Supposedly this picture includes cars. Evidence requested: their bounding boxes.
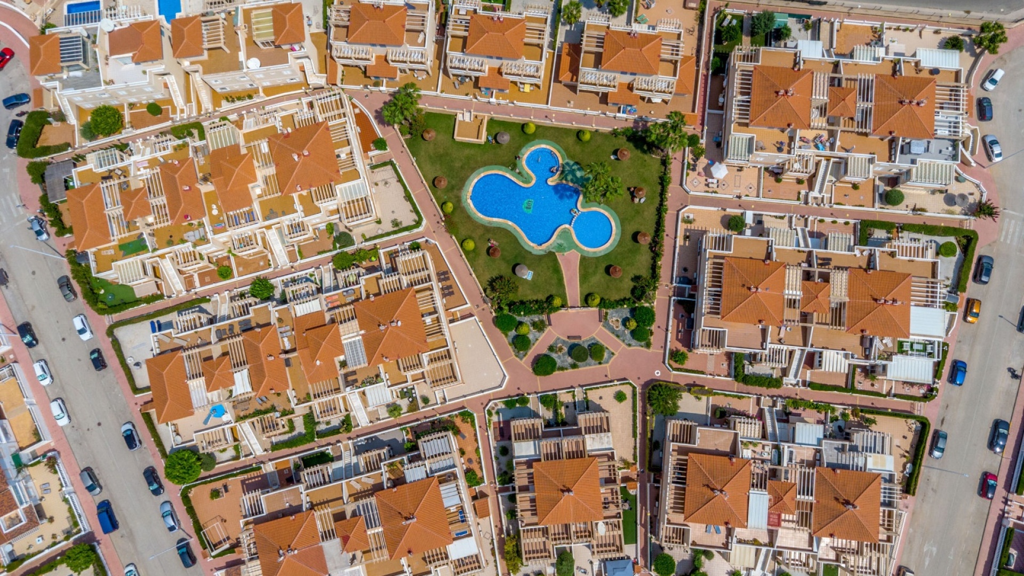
[977,99,992,121]
[930,429,947,457]
[990,422,1008,450]
[950,361,967,386]
[18,322,38,348]
[178,539,195,566]
[59,276,77,300]
[965,299,982,323]
[980,473,996,499]
[0,49,15,69]
[80,467,102,495]
[982,68,1005,92]
[75,315,92,340]
[162,502,180,531]
[975,257,993,283]
[144,468,163,494]
[6,122,24,147]
[28,216,49,241]
[983,136,1002,161]
[5,94,30,108]
[91,349,108,371]
[123,424,141,449]
[33,359,53,386]
[52,399,70,425]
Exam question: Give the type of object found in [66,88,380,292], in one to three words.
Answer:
house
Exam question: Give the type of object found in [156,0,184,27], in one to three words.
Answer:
swimming pool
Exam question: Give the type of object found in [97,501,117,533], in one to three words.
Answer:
vehicle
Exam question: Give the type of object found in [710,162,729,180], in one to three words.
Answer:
umbrella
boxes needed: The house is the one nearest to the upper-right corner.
[718,40,981,196]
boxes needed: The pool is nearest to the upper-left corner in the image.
[63,0,103,28]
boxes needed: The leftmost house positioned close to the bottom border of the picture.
[0,451,49,549]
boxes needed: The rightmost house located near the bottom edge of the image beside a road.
[654,410,904,576]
